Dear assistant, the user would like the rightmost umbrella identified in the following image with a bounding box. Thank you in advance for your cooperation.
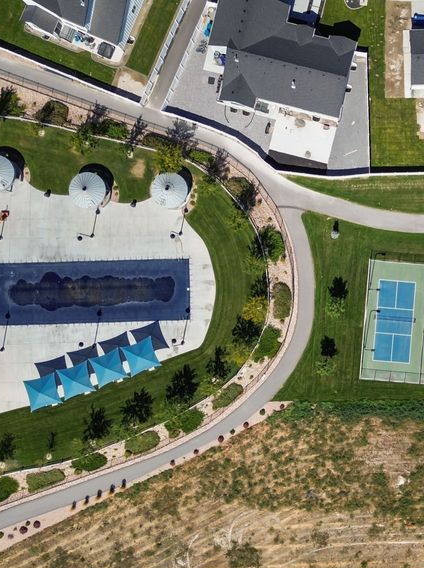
[150,171,188,209]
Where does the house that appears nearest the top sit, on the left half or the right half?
left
